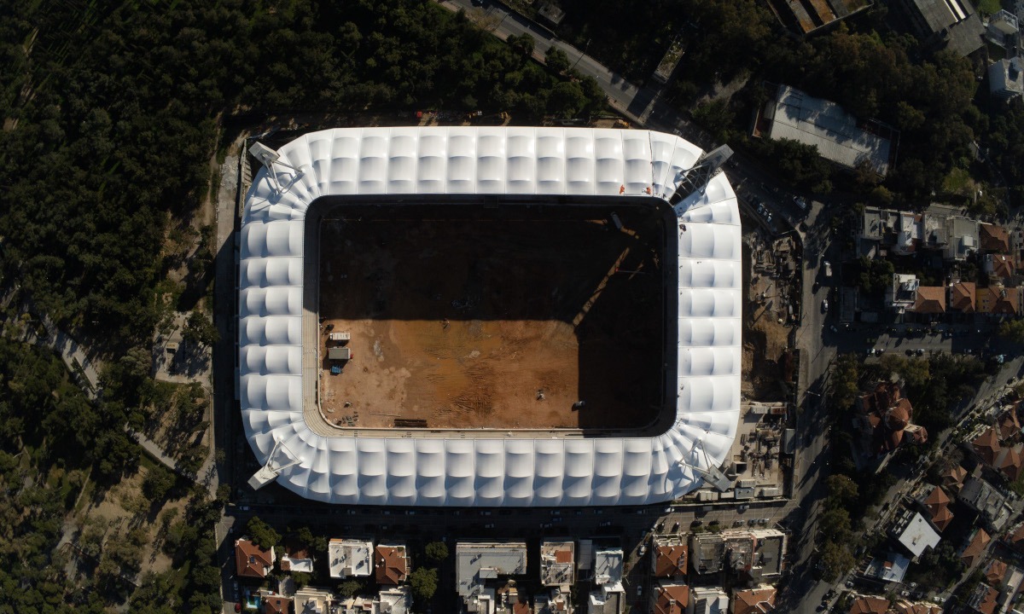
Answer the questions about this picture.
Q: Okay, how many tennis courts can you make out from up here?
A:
none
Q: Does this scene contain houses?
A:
Yes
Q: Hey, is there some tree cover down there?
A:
Yes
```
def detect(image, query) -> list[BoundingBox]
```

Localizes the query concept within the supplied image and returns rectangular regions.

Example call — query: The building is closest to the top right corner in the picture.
[983,9,1021,41]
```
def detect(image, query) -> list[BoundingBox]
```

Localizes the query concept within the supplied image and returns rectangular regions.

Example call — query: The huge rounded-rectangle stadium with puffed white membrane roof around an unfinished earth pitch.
[240,127,741,505]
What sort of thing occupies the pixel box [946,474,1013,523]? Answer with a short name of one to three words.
building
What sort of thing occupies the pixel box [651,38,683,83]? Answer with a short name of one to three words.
shed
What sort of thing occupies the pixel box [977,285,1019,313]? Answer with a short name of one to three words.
house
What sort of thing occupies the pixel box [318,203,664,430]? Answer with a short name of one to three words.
sports field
